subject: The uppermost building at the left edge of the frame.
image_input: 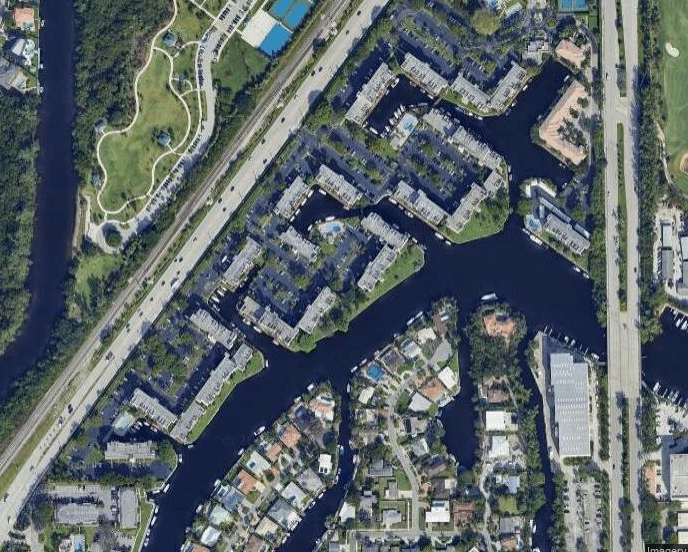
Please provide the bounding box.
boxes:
[14,6,34,26]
